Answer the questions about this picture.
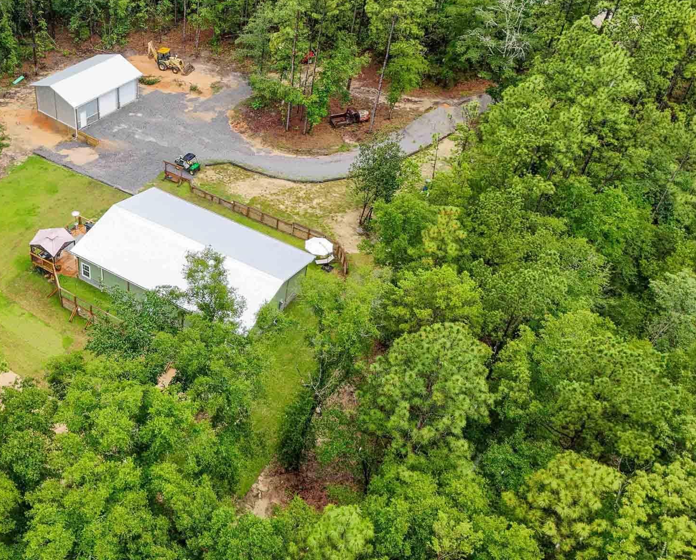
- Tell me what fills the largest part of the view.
trees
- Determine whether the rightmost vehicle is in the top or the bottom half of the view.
top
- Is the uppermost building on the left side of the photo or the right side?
left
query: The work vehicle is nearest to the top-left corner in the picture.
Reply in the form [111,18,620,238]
[141,41,197,81]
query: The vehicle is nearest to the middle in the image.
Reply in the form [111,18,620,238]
[328,109,372,129]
